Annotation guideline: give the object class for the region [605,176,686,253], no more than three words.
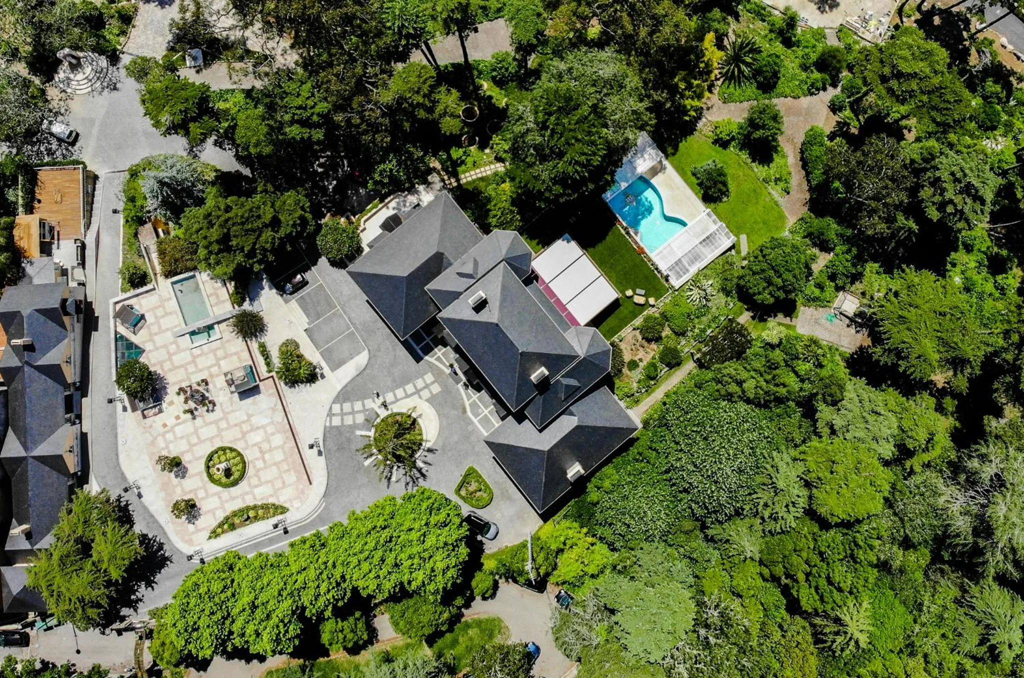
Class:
swimming pool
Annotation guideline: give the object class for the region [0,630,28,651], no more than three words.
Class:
car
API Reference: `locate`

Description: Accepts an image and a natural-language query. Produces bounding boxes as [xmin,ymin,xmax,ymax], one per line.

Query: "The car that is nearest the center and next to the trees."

[465,510,504,546]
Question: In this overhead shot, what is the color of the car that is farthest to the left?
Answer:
black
